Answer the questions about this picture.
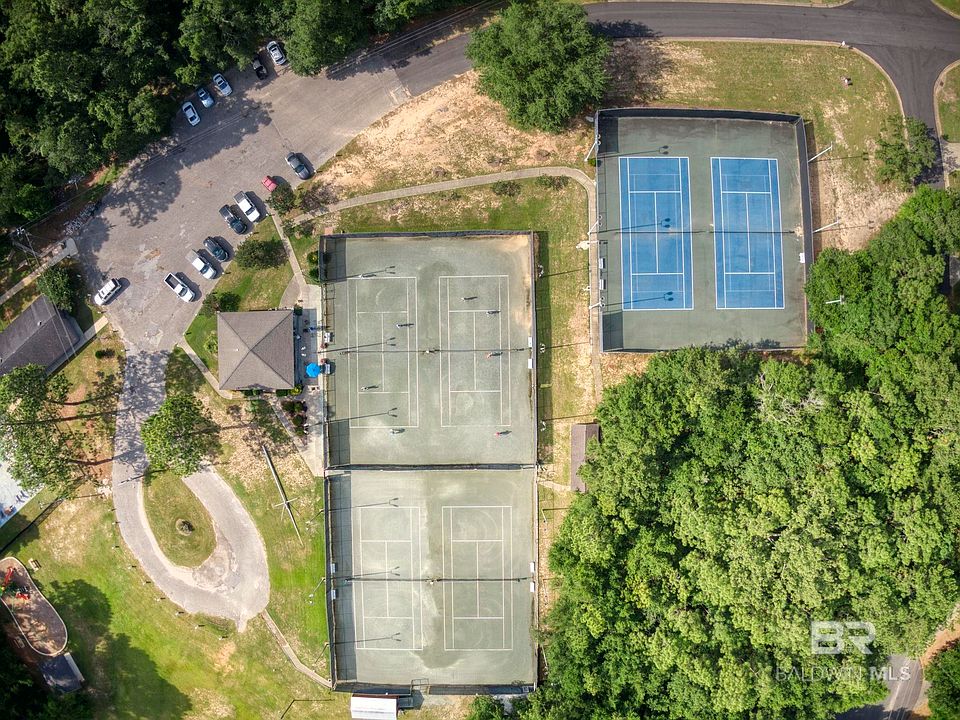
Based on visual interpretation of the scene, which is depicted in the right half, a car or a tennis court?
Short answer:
tennis court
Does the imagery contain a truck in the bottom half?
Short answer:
No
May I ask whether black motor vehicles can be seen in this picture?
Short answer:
Yes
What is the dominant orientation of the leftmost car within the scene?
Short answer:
diagonally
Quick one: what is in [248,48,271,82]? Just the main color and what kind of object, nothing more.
black truck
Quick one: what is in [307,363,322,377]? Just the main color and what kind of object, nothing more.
blue umbrella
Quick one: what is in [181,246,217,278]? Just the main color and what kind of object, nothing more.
white truck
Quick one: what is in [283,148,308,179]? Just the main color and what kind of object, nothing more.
gray car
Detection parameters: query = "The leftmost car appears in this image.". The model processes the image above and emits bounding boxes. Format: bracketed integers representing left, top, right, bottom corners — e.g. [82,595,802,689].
[90,276,121,305]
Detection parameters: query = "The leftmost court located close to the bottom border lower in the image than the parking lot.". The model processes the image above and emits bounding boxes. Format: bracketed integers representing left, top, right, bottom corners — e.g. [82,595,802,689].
[329,469,437,684]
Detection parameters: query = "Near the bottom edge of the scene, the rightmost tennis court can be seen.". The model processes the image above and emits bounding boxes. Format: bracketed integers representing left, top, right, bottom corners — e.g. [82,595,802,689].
[431,467,536,686]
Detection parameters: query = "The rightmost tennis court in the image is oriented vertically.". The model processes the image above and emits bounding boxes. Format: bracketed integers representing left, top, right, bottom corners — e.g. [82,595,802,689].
[699,116,807,351]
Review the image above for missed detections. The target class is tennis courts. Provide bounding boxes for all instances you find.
[594,115,705,352]
[429,234,536,467]
[325,235,431,468]
[699,116,807,351]
[329,469,437,684]
[431,467,536,686]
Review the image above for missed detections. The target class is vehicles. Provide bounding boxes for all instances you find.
[177,97,200,128]
[199,232,229,262]
[181,246,217,278]
[90,276,121,305]
[248,48,271,82]
[264,38,287,68]
[194,81,215,110]
[231,187,260,224]
[159,269,194,304]
[209,68,232,98]
[283,148,308,179]
[215,200,247,235]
